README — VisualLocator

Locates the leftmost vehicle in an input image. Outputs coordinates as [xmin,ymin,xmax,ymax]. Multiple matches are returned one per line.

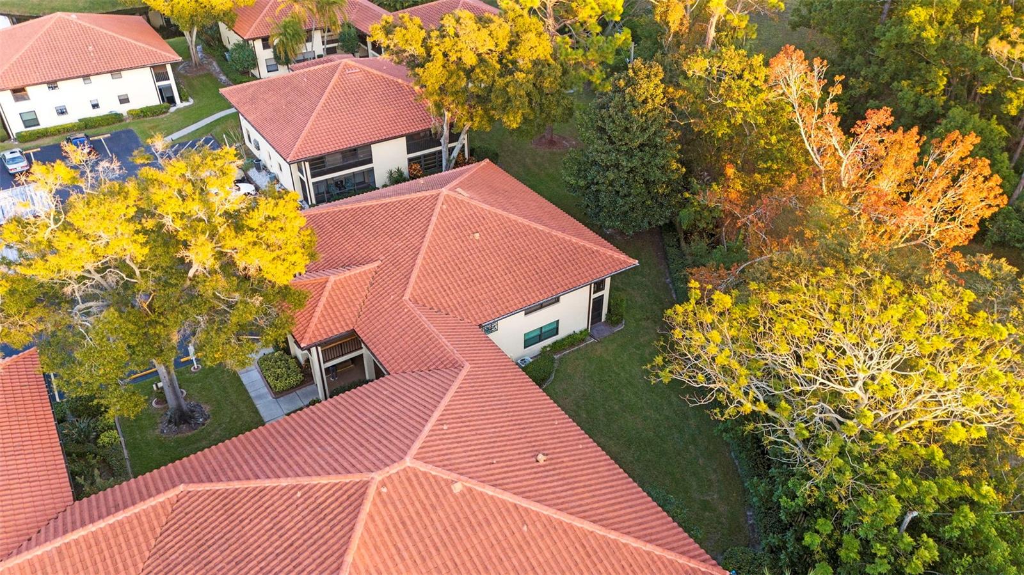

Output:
[0,148,26,170]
